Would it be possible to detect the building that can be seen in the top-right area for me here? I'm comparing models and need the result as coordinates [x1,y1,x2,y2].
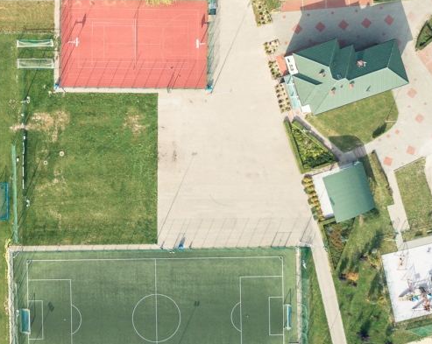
[280,38,408,115]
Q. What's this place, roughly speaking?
sports ground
